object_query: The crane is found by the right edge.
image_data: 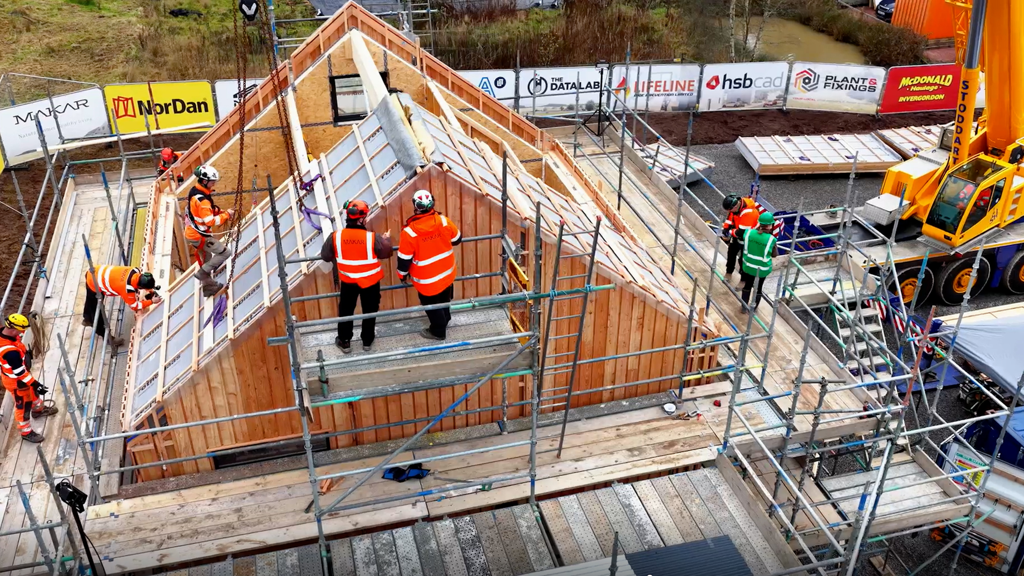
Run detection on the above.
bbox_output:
[734,0,1024,384]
